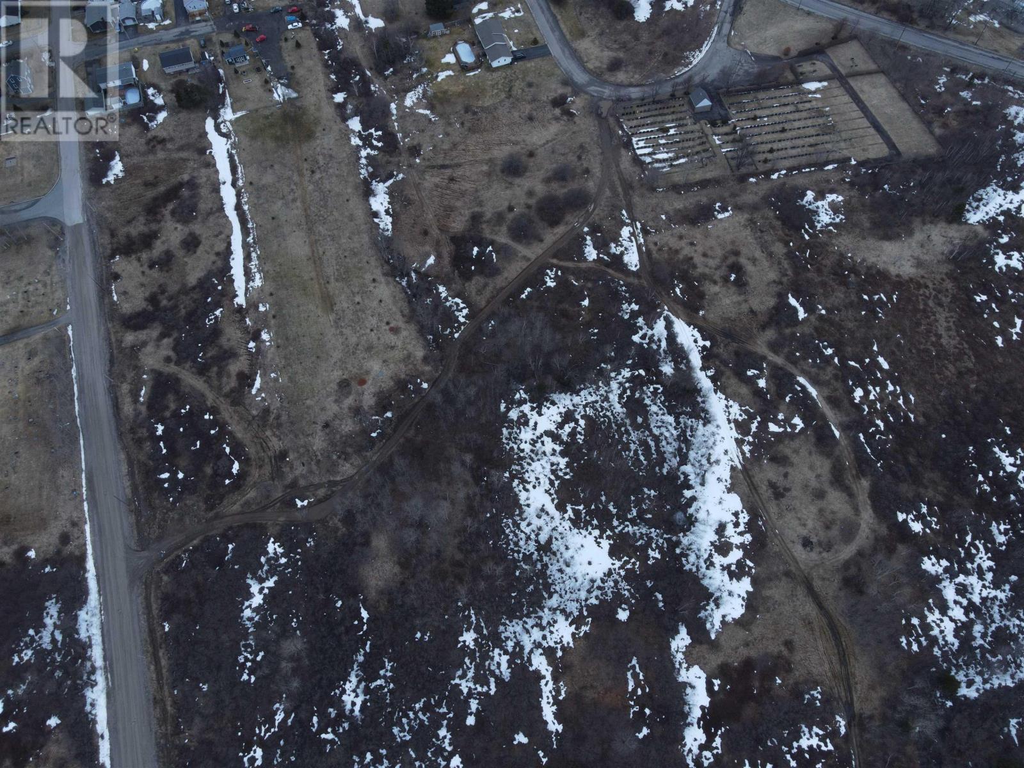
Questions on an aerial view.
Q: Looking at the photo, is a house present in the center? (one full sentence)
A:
No, I see no house in the center.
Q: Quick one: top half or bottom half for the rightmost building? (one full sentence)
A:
Seen from above, the rightmost building lies in the top half of the view.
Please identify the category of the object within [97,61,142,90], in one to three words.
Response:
house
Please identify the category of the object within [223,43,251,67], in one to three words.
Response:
house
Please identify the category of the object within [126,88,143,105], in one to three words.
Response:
swimming pool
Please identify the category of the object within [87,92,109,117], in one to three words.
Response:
building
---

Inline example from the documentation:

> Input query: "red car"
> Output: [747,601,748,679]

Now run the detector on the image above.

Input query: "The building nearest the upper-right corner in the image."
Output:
[690,86,712,115]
